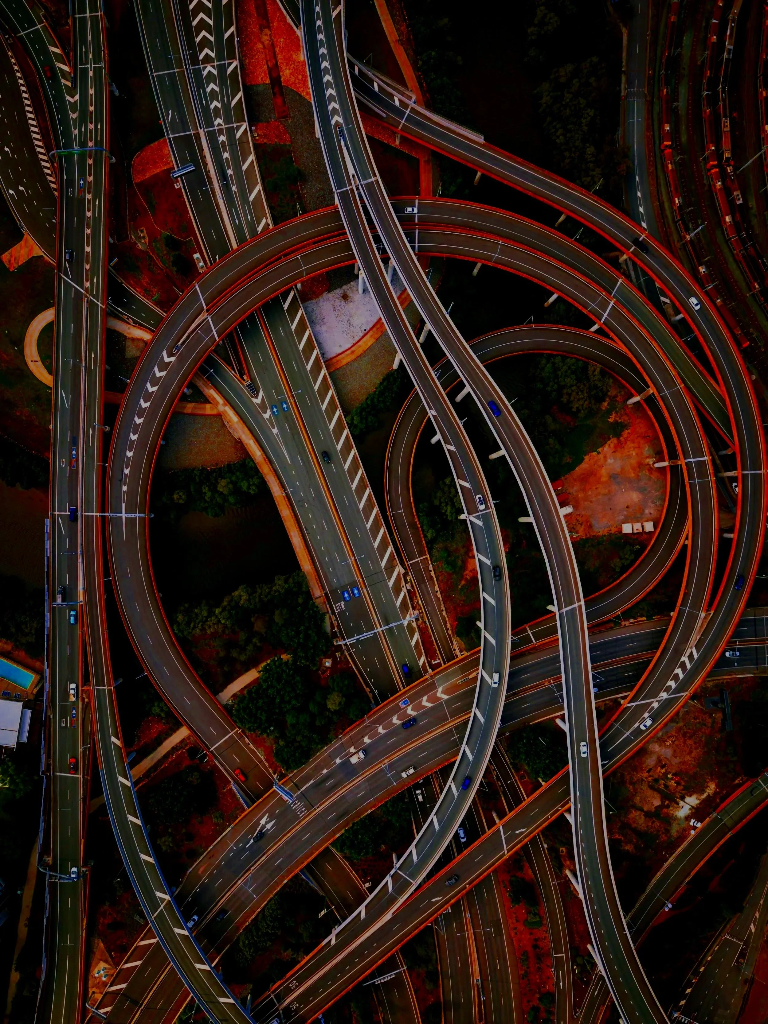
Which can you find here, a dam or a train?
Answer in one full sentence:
Visible in the photo is a train.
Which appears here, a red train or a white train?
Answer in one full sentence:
I can see a red train in this picture.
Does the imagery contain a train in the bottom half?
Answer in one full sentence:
No, no train is visible in the bottom half.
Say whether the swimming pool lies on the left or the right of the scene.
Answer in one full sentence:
You can find the swimming pool on the left side of the picture.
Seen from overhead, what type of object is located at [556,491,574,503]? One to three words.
vehicle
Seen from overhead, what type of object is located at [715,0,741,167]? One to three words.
train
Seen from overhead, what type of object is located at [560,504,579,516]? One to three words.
vehicle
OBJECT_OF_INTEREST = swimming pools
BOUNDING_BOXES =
[0,657,35,690]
